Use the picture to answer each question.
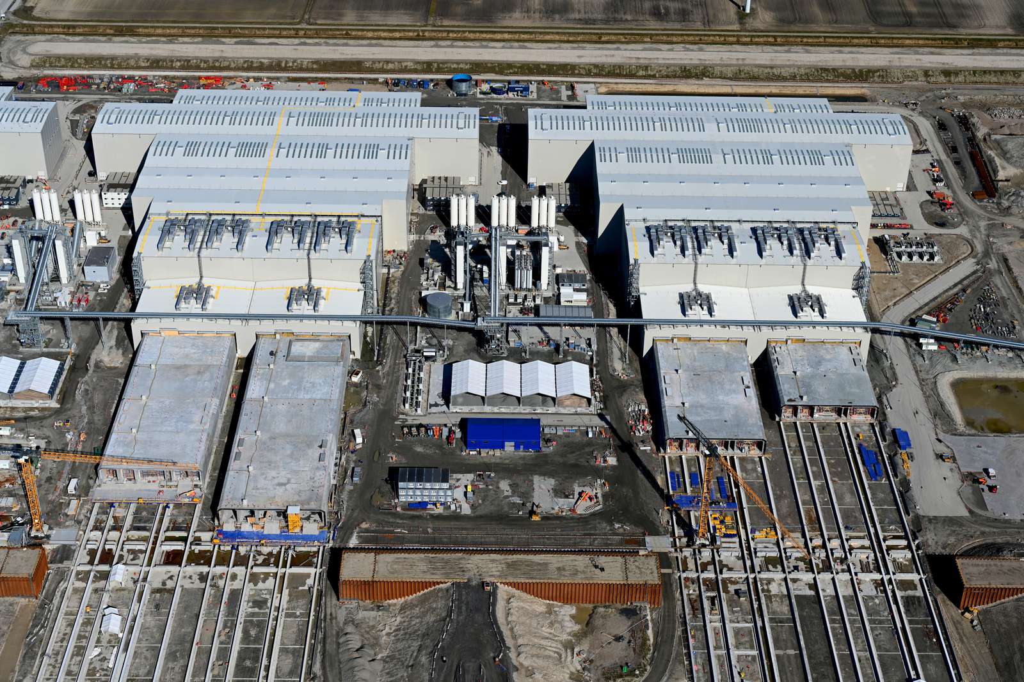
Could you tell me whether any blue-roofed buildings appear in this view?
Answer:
Yes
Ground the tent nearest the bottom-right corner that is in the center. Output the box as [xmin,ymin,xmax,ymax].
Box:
[556,361,590,405]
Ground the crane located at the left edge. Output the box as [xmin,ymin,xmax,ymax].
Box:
[0,445,199,543]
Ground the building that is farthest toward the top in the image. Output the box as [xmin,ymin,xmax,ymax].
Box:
[0,86,64,179]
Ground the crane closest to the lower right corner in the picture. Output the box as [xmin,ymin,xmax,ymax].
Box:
[679,412,810,576]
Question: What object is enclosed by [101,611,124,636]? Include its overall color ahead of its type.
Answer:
white tent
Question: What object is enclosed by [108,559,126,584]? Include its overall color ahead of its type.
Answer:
white tent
